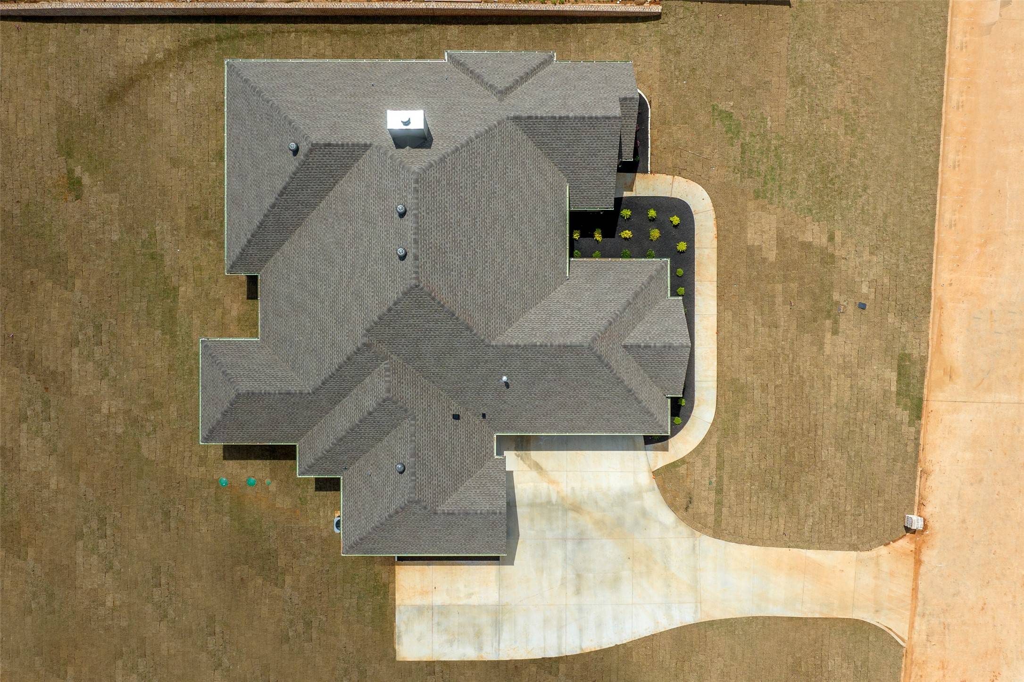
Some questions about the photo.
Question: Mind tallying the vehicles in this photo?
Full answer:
There are no vehicles in the image.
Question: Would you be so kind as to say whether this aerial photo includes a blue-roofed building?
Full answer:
No, the frame has no blue-roofed building in it.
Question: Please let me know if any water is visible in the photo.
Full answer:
No, no water is visible.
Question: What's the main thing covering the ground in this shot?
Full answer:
What you mostly see from above here is grass.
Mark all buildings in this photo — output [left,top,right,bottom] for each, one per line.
[199,50,693,557]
